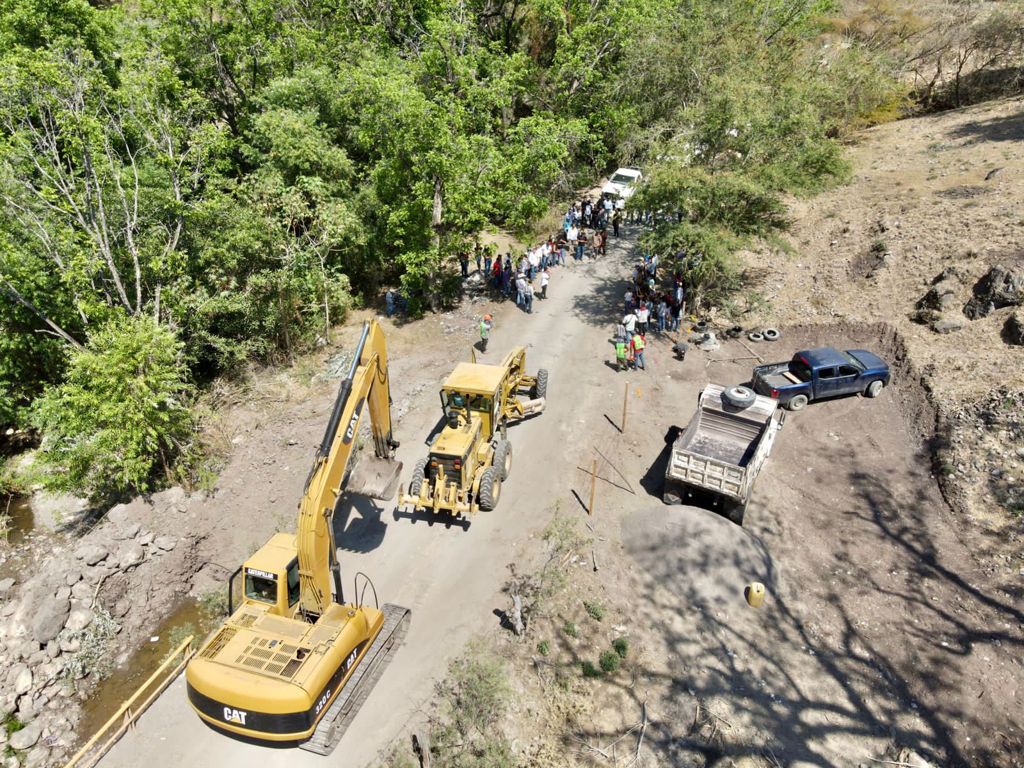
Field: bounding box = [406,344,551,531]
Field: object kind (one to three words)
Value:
work vehicle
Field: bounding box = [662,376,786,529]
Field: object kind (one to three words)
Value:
truck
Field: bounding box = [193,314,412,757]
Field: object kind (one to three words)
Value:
work vehicle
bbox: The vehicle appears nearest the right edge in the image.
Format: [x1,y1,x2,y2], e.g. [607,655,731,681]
[747,344,897,409]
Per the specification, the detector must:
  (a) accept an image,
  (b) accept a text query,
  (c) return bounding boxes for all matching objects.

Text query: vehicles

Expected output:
[603,162,649,206]
[193,314,412,757]
[747,344,897,409]
[662,376,786,529]
[406,344,551,531]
